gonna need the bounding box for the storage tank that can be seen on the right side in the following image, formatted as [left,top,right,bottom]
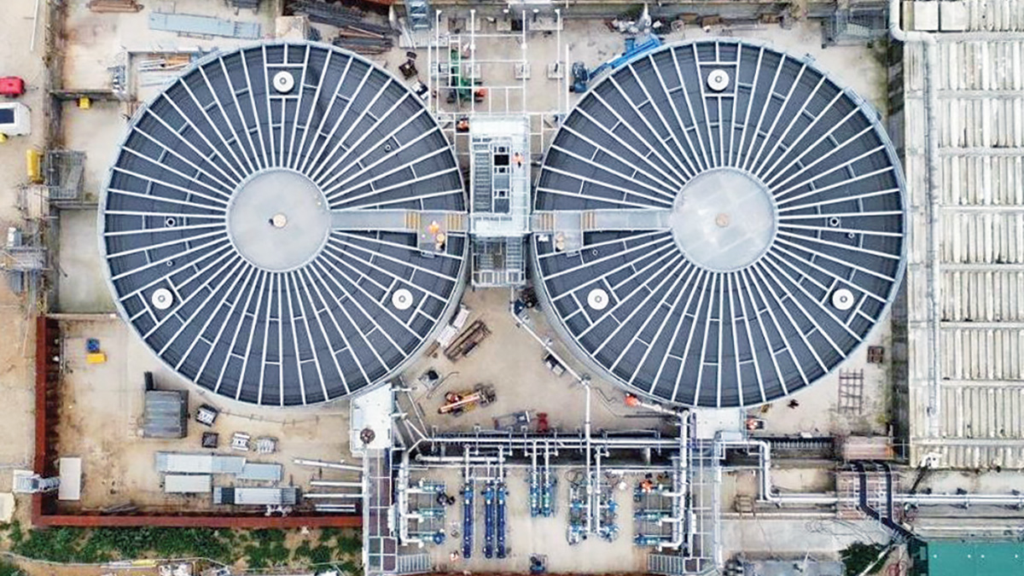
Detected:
[530,36,908,409]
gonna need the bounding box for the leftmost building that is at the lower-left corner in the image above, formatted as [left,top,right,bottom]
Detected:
[53,459,80,502]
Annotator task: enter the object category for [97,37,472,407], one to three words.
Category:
storage tank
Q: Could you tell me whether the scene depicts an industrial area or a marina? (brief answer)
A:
industrial area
